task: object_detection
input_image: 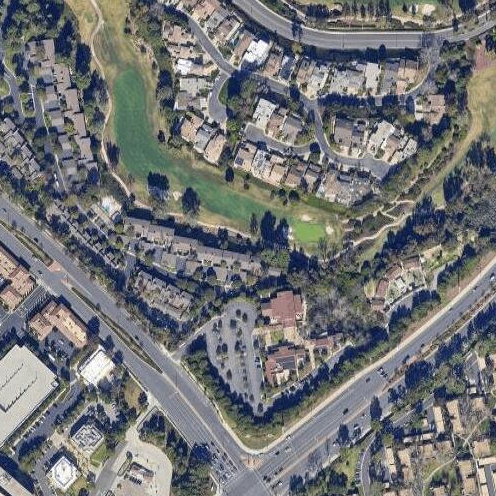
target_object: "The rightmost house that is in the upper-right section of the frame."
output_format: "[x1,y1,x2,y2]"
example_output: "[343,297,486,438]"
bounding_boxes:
[417,97,444,120]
